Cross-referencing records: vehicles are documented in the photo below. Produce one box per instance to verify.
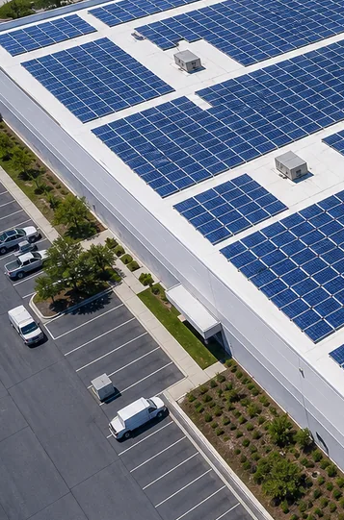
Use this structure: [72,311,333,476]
[110,393,174,438]
[0,303,41,346]
[1,248,55,280]
[0,225,39,255]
